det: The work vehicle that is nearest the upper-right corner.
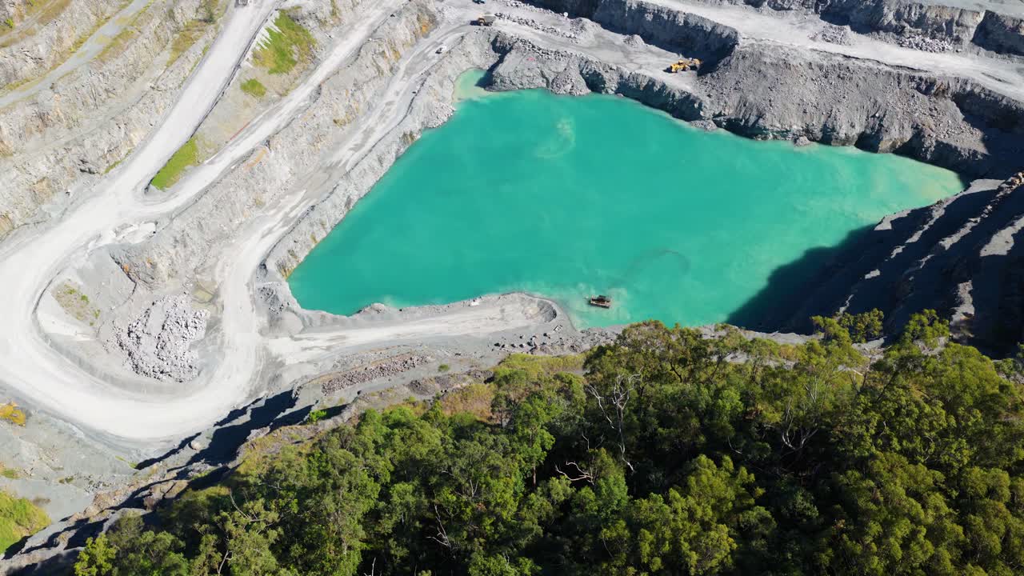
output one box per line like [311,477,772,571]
[670,60,699,74]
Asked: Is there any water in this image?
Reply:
Yes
